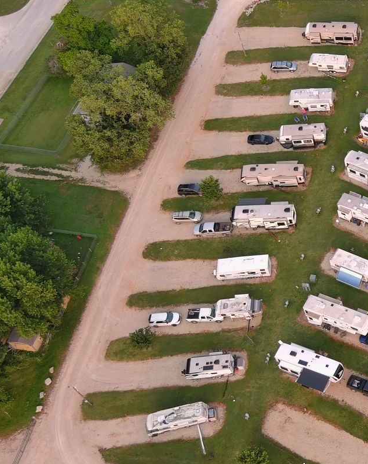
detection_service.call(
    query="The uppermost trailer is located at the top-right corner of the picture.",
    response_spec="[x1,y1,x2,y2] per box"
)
[303,23,359,46]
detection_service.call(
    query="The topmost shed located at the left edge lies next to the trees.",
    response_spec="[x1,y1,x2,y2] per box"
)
[7,321,46,352]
